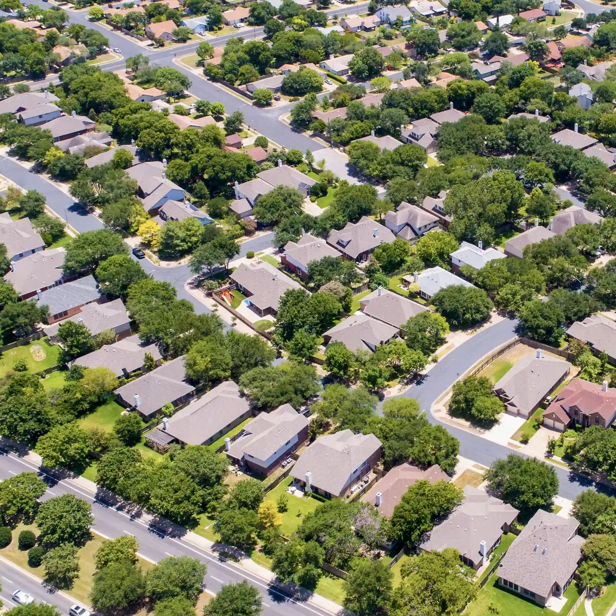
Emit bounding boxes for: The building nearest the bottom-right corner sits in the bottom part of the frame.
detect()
[495,517,589,605]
